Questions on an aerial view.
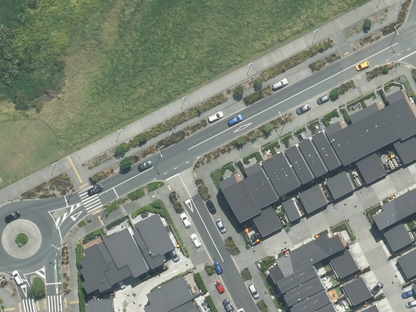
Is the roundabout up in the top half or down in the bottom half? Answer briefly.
bottom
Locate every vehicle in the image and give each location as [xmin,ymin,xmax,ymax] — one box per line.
[371,281,382,295]
[208,111,223,122]
[354,60,370,70]
[228,114,243,126]
[401,290,415,298]
[272,78,288,90]
[212,261,223,275]
[205,198,217,214]
[138,160,152,170]
[6,211,20,222]
[296,104,311,114]
[222,298,233,312]
[170,250,179,264]
[180,212,192,228]
[248,284,258,298]
[316,94,330,104]
[190,233,202,247]
[88,184,102,194]
[214,280,225,294]
[216,219,226,233]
